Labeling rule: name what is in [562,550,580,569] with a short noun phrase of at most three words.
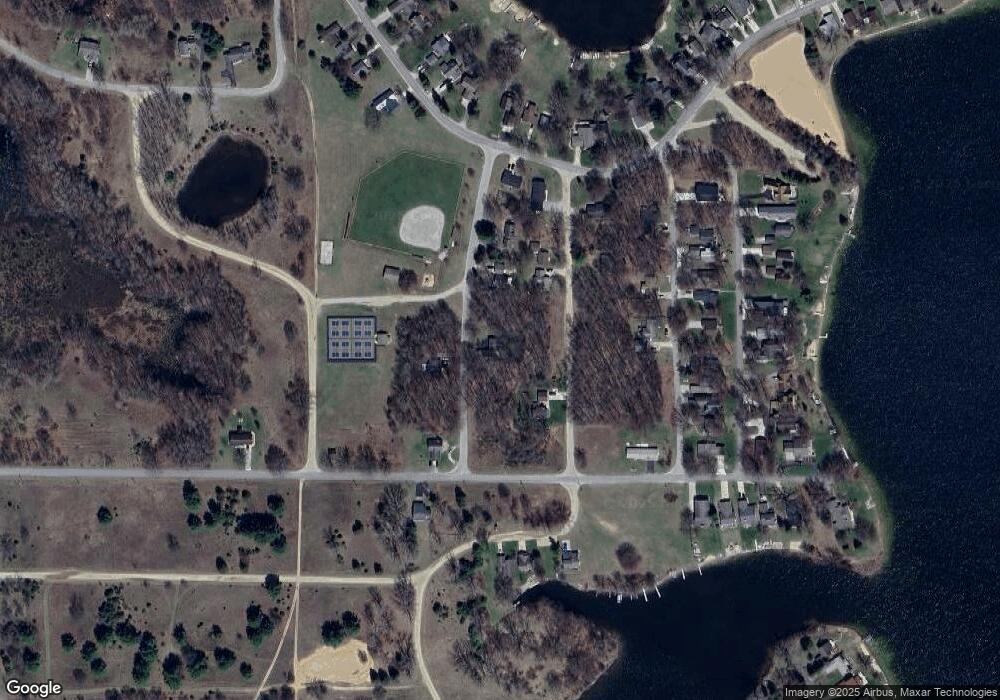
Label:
house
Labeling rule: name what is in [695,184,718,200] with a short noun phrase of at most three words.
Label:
house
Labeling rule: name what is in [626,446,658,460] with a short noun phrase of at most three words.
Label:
shed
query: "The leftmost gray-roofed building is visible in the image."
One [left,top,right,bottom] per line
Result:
[78,41,99,62]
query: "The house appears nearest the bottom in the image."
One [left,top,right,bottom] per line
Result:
[836,671,862,694]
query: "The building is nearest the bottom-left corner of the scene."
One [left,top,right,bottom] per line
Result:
[229,432,252,445]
